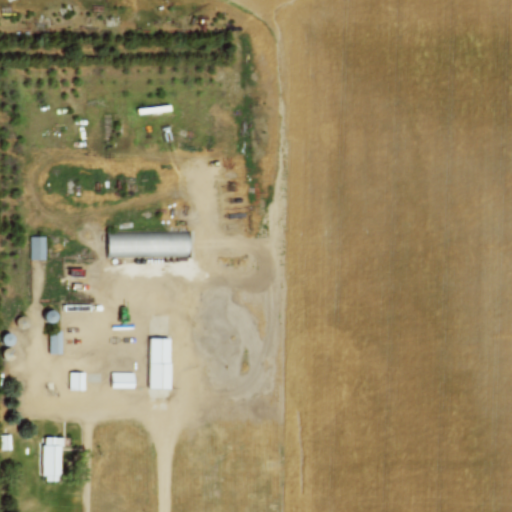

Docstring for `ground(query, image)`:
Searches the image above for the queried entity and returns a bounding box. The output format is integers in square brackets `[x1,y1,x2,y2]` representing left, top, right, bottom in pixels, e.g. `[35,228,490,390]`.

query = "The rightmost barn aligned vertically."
[149,338,172,389]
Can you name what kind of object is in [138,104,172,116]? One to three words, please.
house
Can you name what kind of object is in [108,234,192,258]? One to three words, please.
barn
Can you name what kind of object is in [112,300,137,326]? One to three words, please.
work vehicle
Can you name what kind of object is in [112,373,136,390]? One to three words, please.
shed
